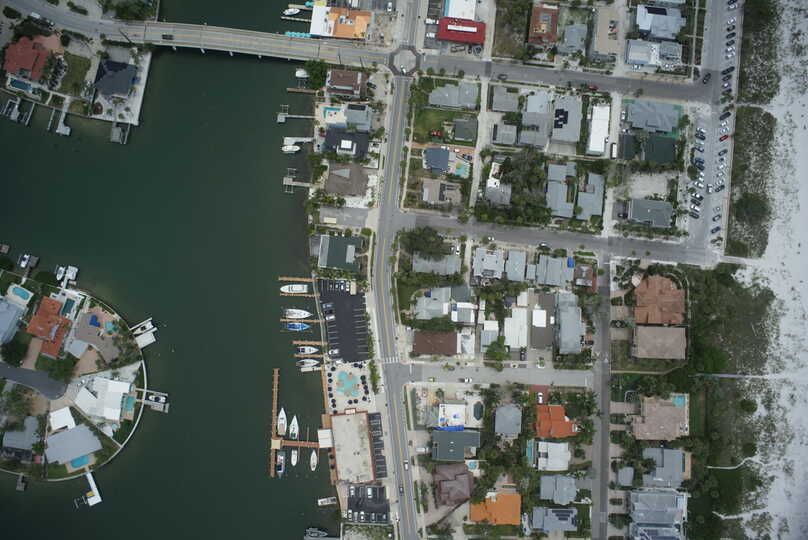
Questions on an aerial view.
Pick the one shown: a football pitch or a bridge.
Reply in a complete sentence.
The one in the frame is a bridge.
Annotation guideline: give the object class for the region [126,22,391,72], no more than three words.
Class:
bridge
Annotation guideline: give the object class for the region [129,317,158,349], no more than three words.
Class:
pier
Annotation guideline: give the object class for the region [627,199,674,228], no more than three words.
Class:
house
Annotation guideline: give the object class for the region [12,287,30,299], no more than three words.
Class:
swimming pool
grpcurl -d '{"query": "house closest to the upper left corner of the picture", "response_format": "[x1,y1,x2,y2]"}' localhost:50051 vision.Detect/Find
[5,36,55,82]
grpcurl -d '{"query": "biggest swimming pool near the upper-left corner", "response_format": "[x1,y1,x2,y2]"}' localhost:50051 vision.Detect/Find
[9,77,32,92]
